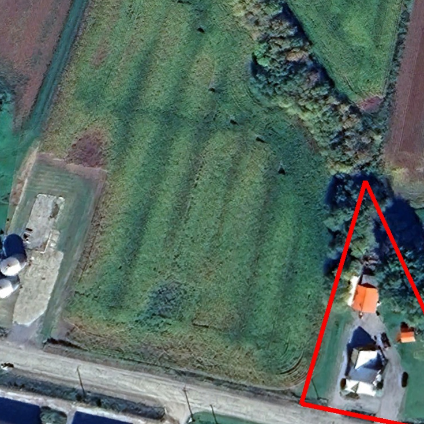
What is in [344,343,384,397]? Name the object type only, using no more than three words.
house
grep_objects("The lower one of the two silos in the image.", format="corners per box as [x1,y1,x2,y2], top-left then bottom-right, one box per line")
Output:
[0,276,17,297]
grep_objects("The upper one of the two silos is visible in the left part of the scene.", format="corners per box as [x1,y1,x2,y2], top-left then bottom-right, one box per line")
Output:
[1,253,27,277]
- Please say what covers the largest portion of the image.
grass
